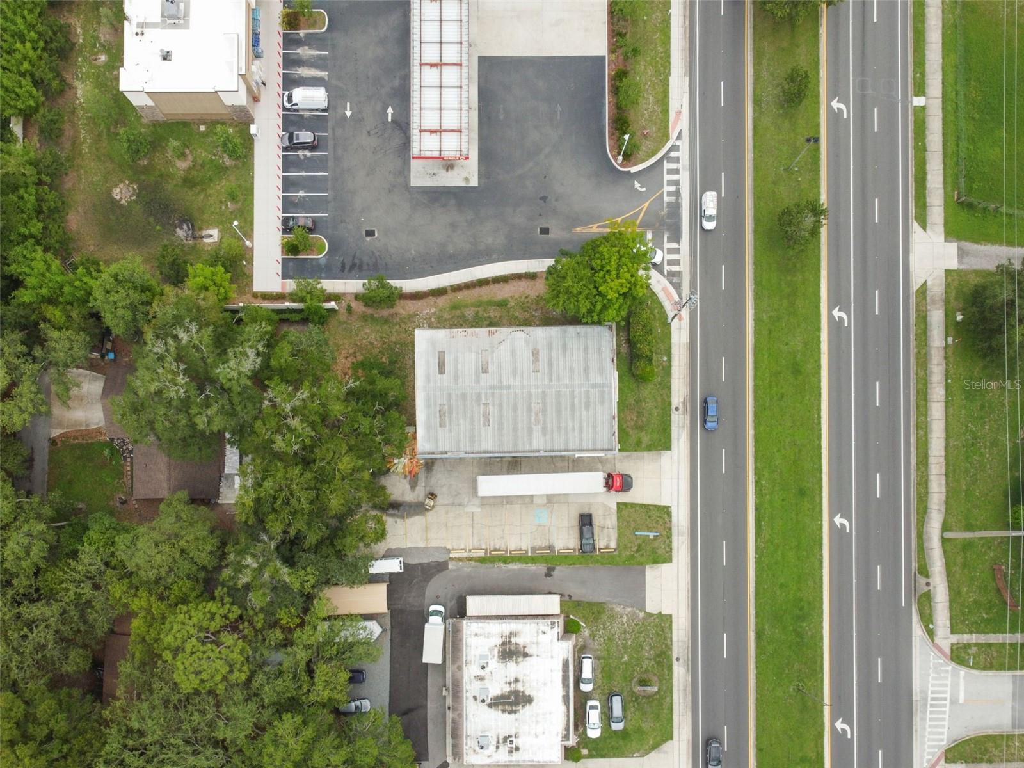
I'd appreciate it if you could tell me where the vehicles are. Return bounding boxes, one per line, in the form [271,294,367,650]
[422,603,445,665]
[281,130,318,152]
[705,737,724,768]
[585,699,603,738]
[424,491,439,510]
[338,696,372,714]
[578,654,595,692]
[368,557,406,574]
[608,692,626,730]
[702,396,719,431]
[342,669,371,685]
[282,214,317,233]
[578,512,597,553]
[700,188,719,232]
[602,470,633,493]
[284,83,328,111]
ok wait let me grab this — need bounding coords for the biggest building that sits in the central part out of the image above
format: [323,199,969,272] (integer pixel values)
[414,322,619,460]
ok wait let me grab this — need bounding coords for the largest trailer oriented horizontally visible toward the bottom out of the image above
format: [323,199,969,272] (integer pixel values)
[477,472,602,497]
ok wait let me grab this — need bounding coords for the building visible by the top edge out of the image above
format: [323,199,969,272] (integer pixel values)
[120,0,258,121]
